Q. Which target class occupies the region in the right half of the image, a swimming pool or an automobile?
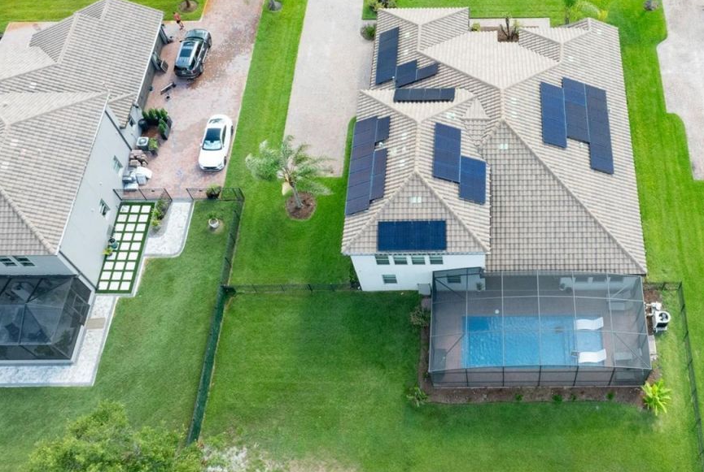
swimming pool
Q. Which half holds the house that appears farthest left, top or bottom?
top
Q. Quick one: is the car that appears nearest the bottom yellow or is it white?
white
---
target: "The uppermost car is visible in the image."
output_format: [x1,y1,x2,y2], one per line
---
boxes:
[172,26,210,76]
